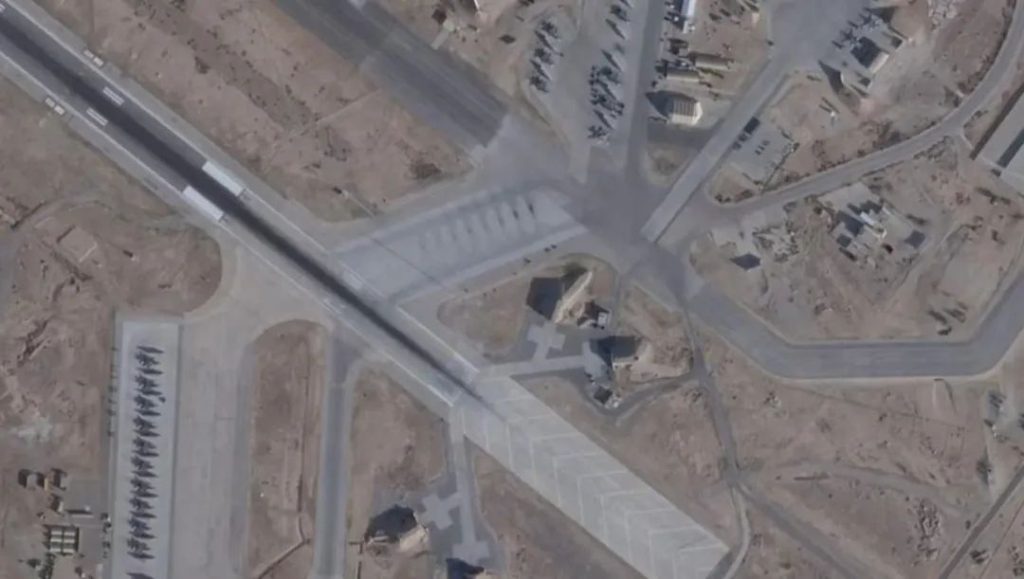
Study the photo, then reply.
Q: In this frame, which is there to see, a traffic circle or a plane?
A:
plane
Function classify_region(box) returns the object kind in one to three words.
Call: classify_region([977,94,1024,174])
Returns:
building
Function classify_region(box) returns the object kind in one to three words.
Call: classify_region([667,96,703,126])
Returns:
hangar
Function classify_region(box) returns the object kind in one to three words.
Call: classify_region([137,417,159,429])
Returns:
airplane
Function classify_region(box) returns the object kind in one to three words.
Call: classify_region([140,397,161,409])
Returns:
airplane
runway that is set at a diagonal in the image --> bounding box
[0,0,478,407]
